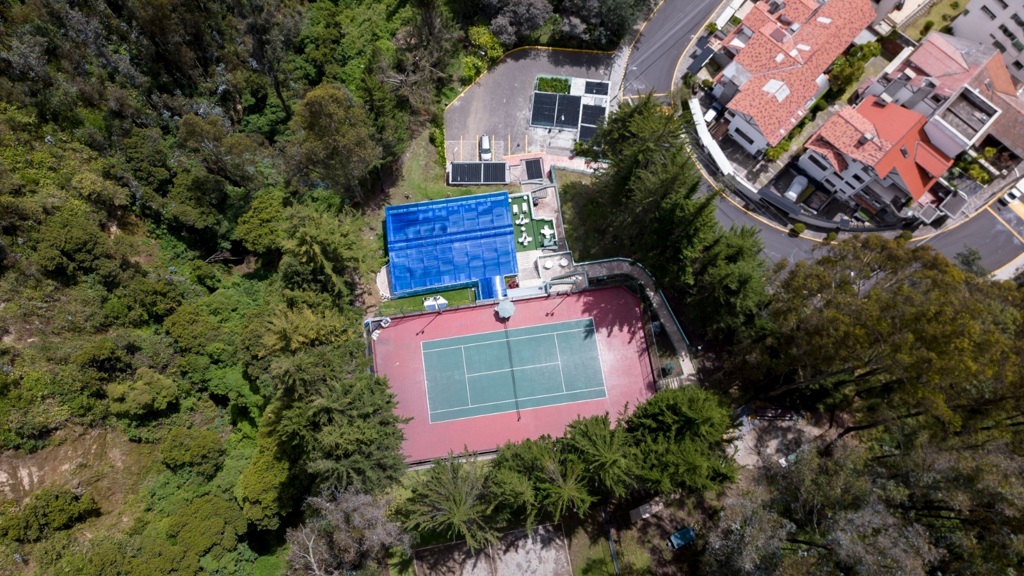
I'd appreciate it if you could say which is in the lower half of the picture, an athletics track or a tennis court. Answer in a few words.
tennis court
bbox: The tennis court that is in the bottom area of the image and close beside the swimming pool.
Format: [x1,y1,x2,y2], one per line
[373,290,657,465]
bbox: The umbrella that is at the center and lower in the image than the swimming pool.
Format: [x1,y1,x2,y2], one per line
[495,300,516,321]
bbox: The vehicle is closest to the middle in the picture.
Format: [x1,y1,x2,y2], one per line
[478,133,493,162]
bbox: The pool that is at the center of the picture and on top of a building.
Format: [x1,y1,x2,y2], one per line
[389,199,513,289]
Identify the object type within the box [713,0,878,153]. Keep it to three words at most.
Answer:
house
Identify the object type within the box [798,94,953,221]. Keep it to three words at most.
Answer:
house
